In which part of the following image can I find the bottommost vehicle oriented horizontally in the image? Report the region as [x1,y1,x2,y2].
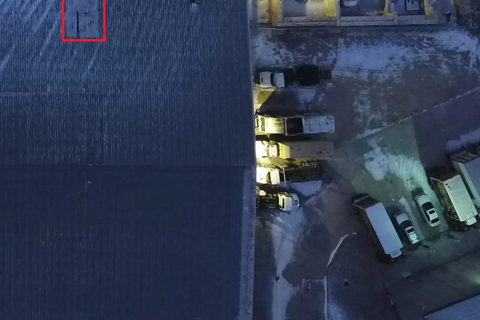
[255,187,300,211]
